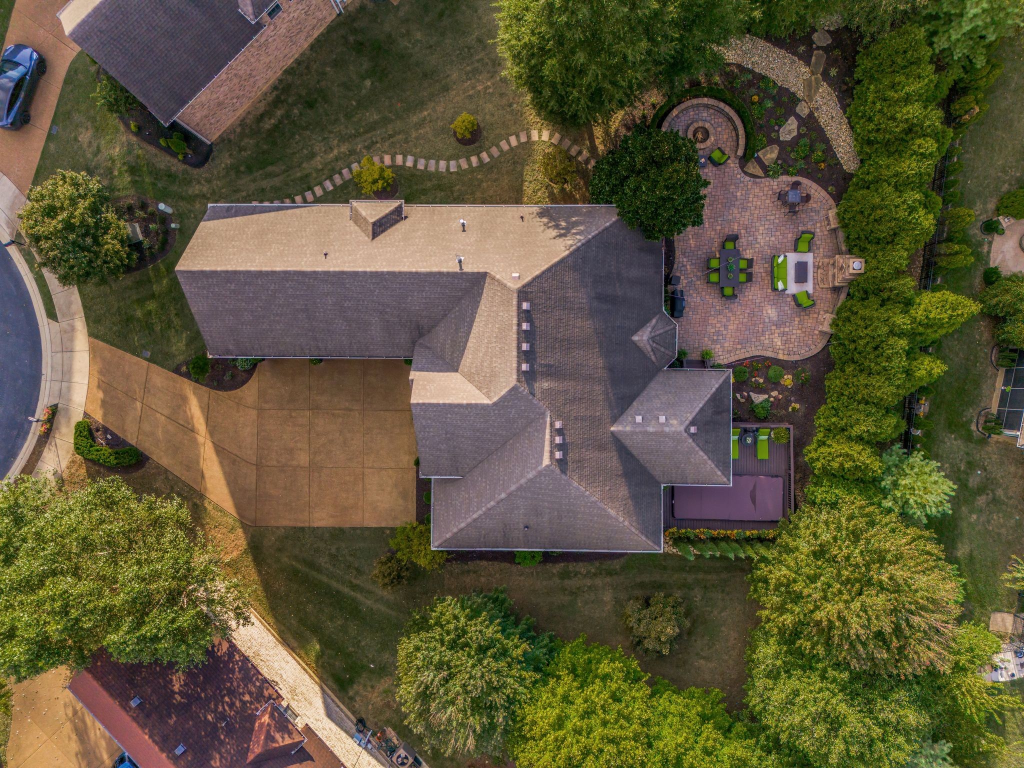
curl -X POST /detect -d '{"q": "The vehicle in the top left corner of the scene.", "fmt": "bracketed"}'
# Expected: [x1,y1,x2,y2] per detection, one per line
[0,40,50,131]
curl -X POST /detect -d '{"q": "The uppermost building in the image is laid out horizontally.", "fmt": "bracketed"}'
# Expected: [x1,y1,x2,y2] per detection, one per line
[56,0,352,142]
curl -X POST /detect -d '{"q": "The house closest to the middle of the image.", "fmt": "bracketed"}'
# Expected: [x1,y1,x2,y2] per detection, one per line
[179,198,734,554]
